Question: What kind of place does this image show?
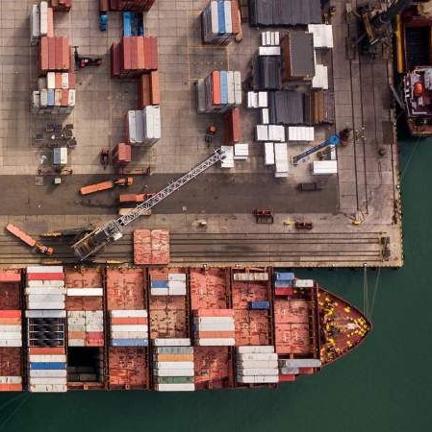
port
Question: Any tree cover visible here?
No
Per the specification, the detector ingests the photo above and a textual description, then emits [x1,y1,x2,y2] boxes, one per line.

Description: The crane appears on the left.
[43,145,230,266]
